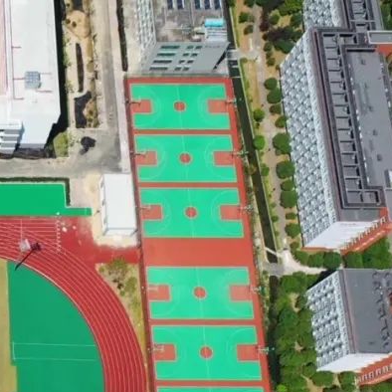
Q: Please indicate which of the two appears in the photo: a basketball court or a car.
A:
basketball court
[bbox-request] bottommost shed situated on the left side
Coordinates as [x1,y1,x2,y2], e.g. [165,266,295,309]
[100,171,143,234]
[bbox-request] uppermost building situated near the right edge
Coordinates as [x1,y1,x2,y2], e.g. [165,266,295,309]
[281,0,392,251]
